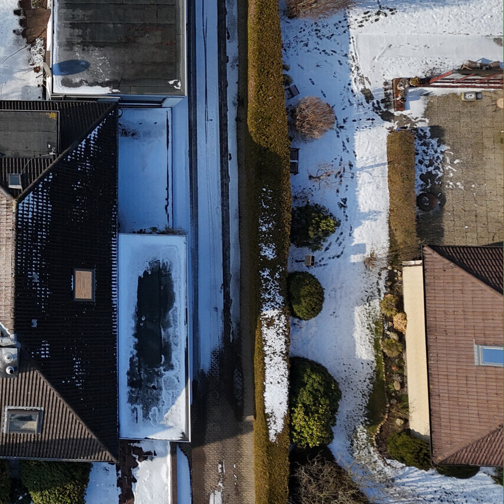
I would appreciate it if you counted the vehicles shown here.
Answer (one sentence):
I count no vehicles.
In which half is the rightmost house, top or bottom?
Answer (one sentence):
The rightmost house sits in the bottom half of the picture.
